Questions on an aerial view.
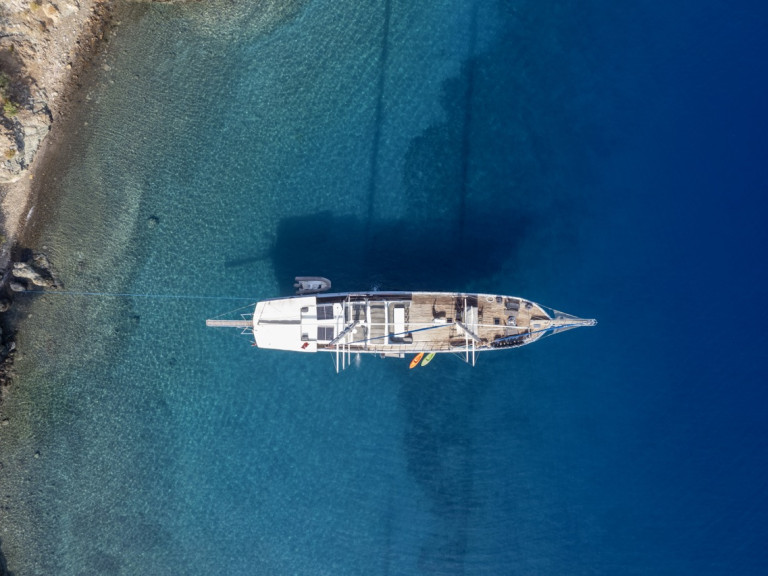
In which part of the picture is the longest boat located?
center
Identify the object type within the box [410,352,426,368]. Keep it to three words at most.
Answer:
boat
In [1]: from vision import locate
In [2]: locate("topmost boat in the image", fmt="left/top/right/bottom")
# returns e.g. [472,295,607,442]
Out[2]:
[292,277,344,293]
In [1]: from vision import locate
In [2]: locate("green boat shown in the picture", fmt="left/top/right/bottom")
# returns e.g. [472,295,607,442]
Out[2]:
[421,352,437,366]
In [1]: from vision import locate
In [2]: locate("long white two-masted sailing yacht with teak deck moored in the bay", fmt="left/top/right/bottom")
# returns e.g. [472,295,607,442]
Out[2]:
[206,291,597,374]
